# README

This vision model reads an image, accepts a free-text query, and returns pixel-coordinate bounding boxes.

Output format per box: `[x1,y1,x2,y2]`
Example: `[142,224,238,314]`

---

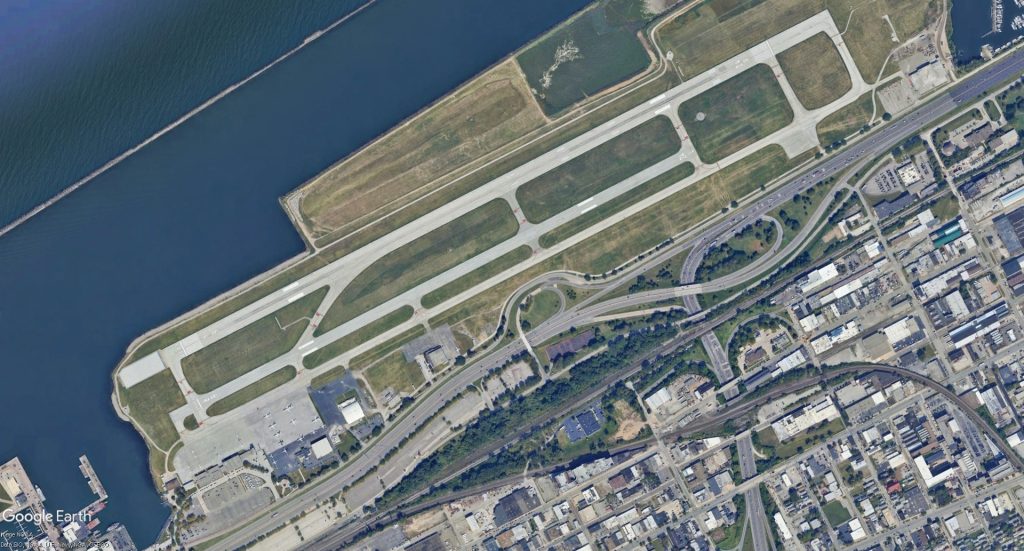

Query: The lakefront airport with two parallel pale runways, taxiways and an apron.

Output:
[118,10,902,483]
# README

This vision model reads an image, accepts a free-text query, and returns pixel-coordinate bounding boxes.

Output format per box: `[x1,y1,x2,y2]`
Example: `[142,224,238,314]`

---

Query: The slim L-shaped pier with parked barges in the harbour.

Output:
[75,455,108,517]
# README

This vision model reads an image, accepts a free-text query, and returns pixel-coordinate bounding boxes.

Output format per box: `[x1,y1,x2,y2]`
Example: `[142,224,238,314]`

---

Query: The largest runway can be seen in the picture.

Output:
[159,10,836,365]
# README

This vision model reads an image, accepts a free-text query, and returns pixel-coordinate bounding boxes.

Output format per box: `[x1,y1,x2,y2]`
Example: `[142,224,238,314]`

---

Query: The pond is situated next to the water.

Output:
[517,0,681,116]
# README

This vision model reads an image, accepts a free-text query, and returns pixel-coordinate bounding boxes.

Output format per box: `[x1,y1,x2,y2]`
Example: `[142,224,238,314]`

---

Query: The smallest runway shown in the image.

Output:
[196,149,690,409]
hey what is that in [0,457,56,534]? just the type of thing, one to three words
pier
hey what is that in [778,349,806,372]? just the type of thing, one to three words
building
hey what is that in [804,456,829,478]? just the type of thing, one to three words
building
